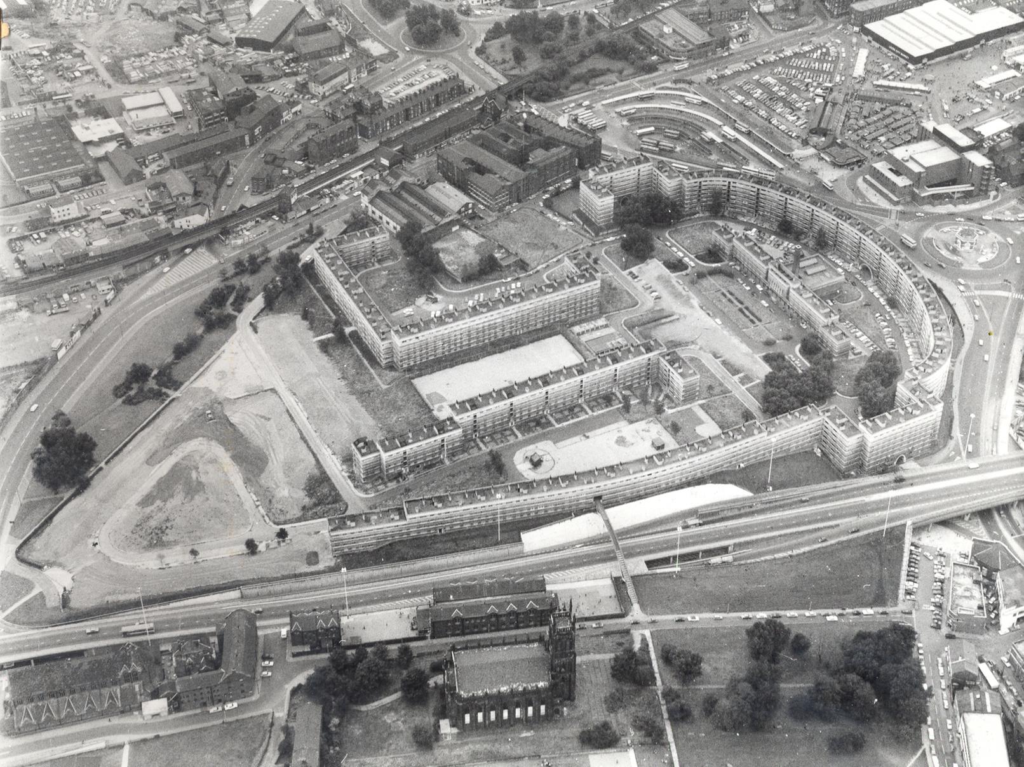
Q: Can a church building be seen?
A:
Yes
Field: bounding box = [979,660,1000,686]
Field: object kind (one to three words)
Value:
truck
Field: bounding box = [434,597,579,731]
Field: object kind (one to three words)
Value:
church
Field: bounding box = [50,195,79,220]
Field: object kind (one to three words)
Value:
house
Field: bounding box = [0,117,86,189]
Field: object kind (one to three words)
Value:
building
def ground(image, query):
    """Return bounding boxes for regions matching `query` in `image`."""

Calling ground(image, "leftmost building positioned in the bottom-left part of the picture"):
[9,636,147,728]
